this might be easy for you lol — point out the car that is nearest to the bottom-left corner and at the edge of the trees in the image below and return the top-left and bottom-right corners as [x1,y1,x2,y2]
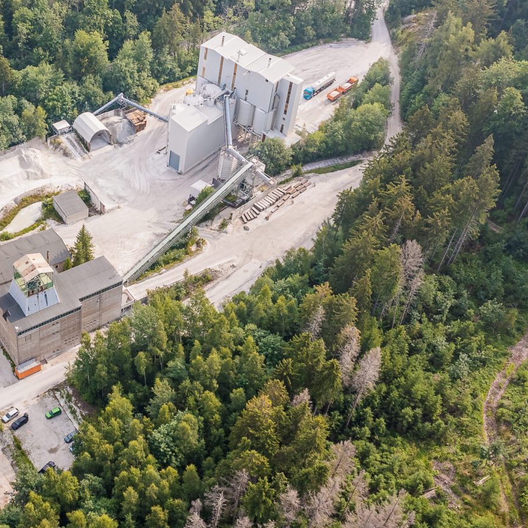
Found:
[37,458,57,474]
